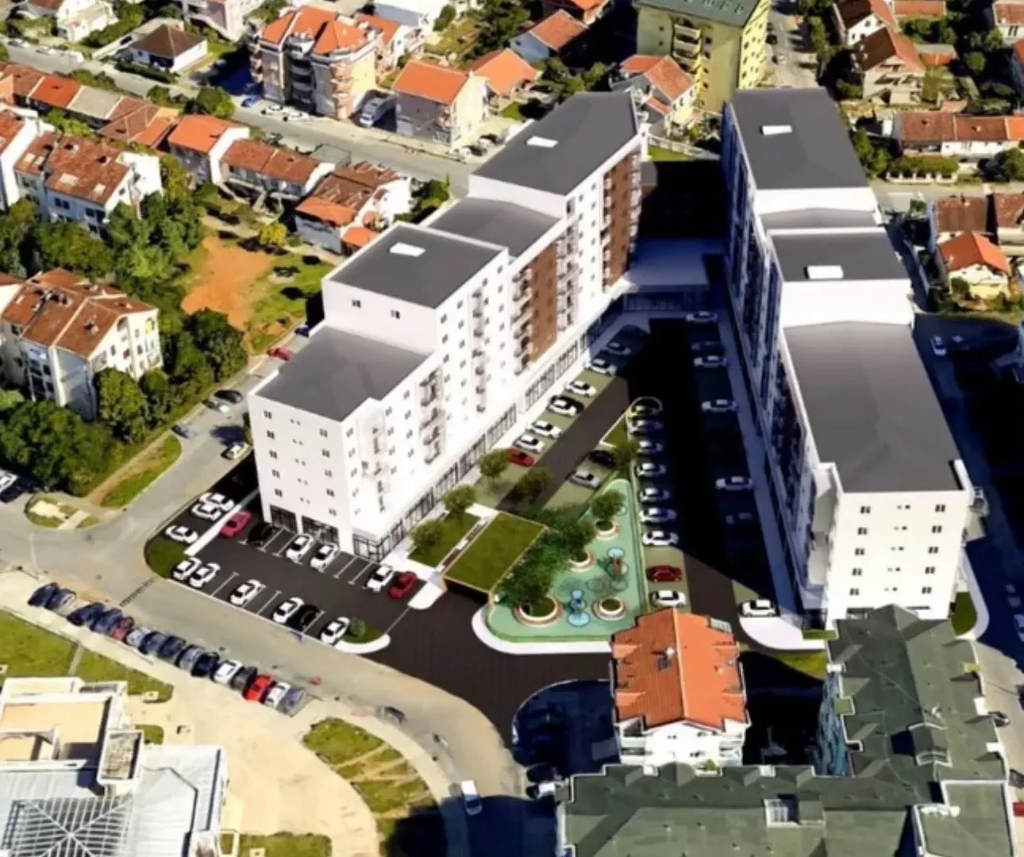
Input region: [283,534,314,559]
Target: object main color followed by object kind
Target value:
white car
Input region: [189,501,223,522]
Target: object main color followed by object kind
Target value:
white car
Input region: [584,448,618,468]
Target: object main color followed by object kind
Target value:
black car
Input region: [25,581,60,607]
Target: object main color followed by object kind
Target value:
black car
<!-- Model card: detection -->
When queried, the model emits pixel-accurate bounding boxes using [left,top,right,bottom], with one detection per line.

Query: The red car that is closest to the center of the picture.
[504,448,537,467]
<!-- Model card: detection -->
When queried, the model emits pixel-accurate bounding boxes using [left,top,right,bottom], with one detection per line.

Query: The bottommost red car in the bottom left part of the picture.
[241,674,274,700]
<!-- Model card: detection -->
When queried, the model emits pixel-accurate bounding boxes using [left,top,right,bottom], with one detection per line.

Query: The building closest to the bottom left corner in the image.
[0,680,229,857]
